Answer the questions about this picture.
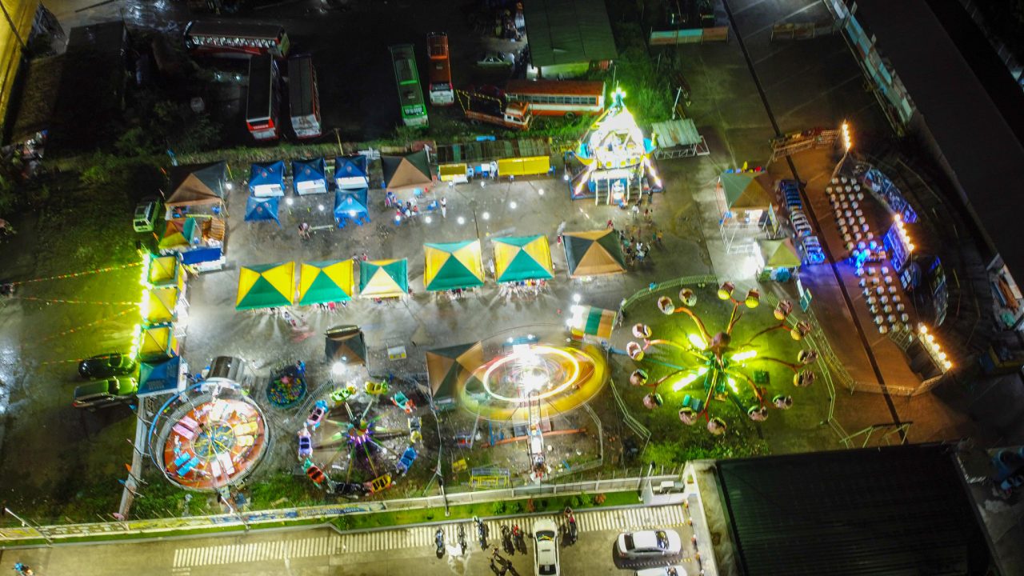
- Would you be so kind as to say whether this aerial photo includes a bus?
Yes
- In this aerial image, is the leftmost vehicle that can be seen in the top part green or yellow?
green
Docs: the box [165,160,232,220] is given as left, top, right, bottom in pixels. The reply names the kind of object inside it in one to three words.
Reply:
tent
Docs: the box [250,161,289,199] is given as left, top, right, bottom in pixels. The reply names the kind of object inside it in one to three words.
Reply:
tent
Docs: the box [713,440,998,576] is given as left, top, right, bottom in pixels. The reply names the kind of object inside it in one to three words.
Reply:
building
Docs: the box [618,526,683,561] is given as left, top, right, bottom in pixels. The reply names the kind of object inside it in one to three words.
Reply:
car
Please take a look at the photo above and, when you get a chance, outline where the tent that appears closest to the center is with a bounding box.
[492,235,554,296]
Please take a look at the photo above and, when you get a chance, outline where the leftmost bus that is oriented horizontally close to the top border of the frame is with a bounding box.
[185,22,291,60]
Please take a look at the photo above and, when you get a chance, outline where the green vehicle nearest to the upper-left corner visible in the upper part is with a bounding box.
[129,200,160,241]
